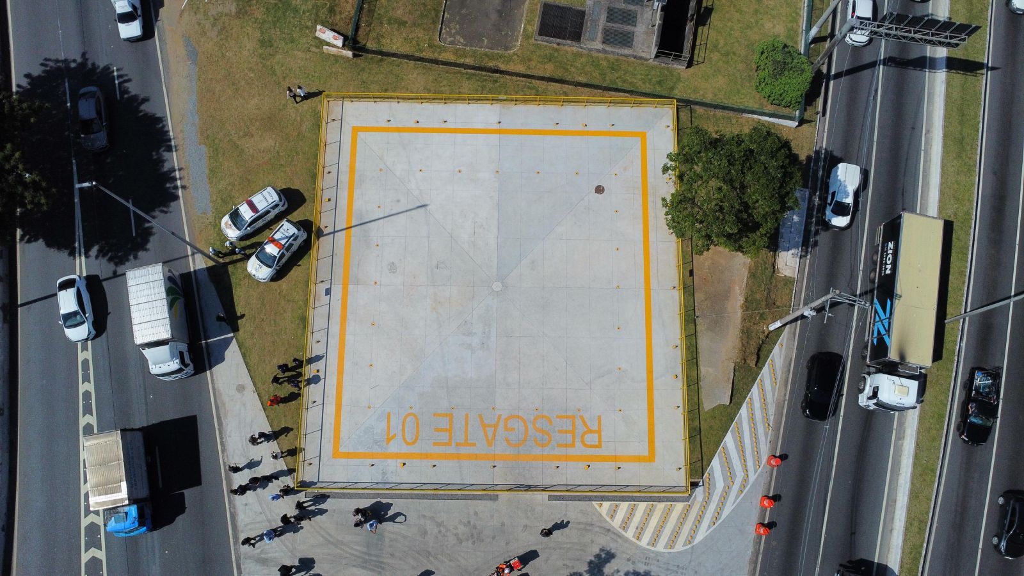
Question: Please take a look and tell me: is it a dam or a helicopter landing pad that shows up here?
helicopter landing pad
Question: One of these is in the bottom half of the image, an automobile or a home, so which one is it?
automobile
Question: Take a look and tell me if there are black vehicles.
Yes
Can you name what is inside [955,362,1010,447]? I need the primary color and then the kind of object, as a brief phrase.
black truck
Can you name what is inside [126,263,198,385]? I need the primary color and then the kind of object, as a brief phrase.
white truck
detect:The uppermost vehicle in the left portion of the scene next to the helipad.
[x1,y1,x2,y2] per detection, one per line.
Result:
[222,183,287,243]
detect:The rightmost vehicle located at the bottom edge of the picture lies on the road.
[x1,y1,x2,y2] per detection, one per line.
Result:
[987,489,1024,561]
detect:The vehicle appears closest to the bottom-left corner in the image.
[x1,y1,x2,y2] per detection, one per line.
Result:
[82,427,159,537]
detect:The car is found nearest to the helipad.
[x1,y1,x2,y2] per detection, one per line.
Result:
[248,217,308,283]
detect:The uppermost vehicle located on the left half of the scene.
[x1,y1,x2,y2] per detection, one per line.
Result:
[109,0,148,44]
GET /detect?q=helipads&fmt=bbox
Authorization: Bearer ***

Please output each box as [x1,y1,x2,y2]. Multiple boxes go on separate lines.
[296,96,704,497]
